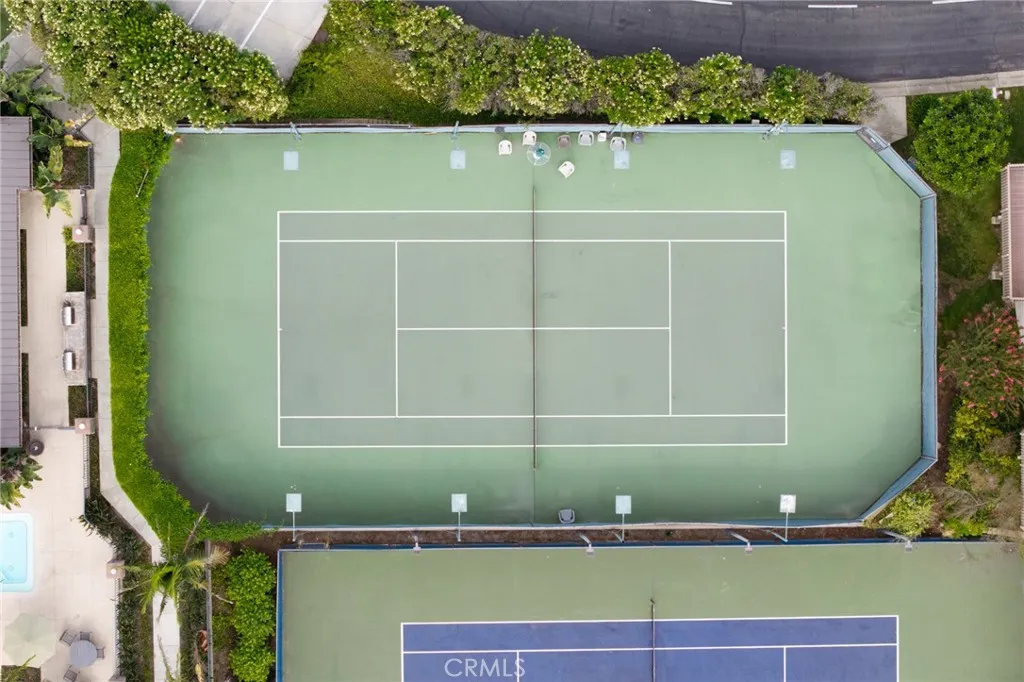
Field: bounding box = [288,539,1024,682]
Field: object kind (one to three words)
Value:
tennis court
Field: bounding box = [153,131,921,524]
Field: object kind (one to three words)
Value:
tennis court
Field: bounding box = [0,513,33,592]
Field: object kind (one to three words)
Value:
swimming pool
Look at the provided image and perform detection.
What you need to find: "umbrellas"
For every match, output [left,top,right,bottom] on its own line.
[5,611,56,663]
